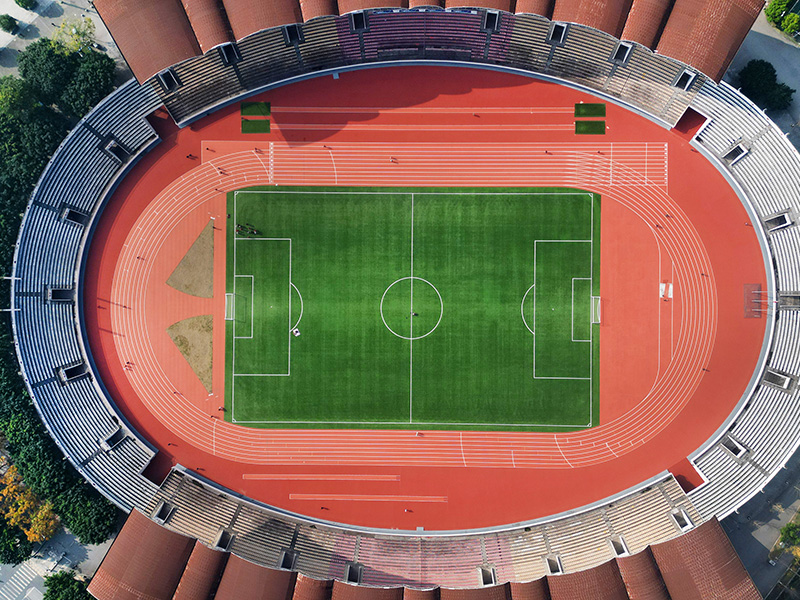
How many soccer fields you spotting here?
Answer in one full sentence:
The picture shows 1 soccer field.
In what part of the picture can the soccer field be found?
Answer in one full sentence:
The soccer field is in the center part of the image.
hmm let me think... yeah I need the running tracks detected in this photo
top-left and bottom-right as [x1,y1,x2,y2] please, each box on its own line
[66,66,800,530]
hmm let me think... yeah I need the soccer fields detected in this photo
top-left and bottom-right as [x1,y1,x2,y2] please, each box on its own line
[225,185,601,433]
